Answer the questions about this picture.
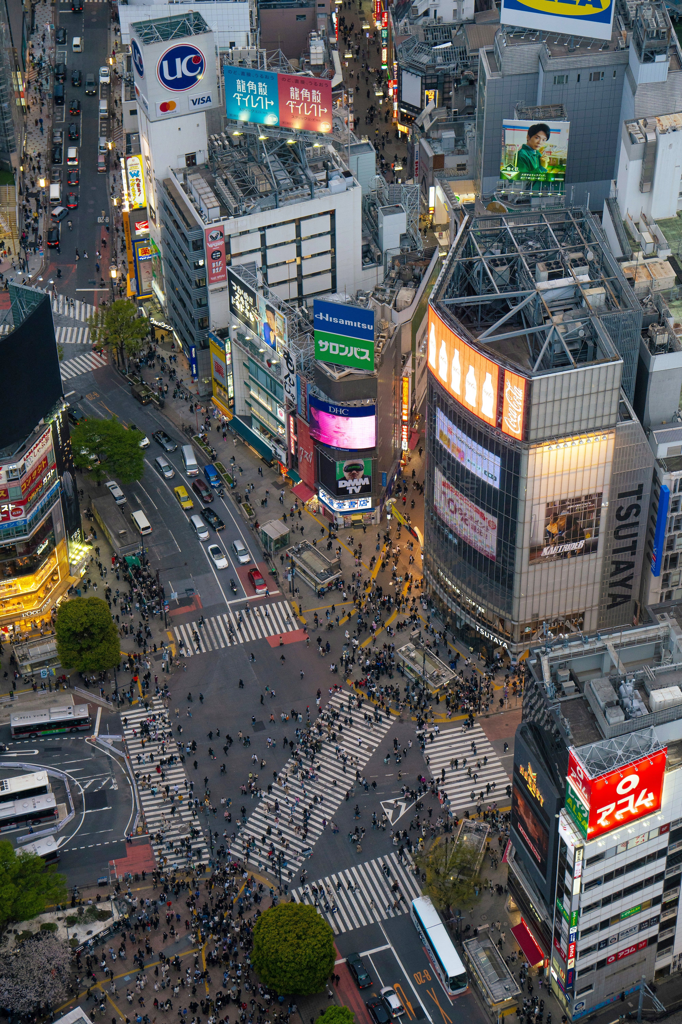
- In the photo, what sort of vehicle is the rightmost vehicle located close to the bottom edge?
bus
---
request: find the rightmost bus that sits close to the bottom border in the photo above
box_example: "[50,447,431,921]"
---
[411,896,469,992]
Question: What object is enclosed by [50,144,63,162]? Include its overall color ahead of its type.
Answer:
black vehicle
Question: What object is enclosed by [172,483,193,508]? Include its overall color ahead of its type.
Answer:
yellow car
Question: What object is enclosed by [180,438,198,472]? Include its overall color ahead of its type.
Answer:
gray vehicle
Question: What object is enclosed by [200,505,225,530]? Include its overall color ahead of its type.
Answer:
black car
